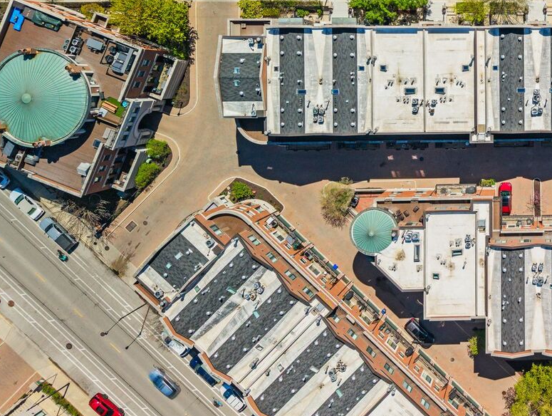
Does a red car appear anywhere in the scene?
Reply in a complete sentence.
Yes, a red car appears in the view.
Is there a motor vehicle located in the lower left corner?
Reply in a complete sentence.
Yes, a motor vehicle shows up in the lower left corner.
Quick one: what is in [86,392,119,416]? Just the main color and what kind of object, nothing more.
red car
